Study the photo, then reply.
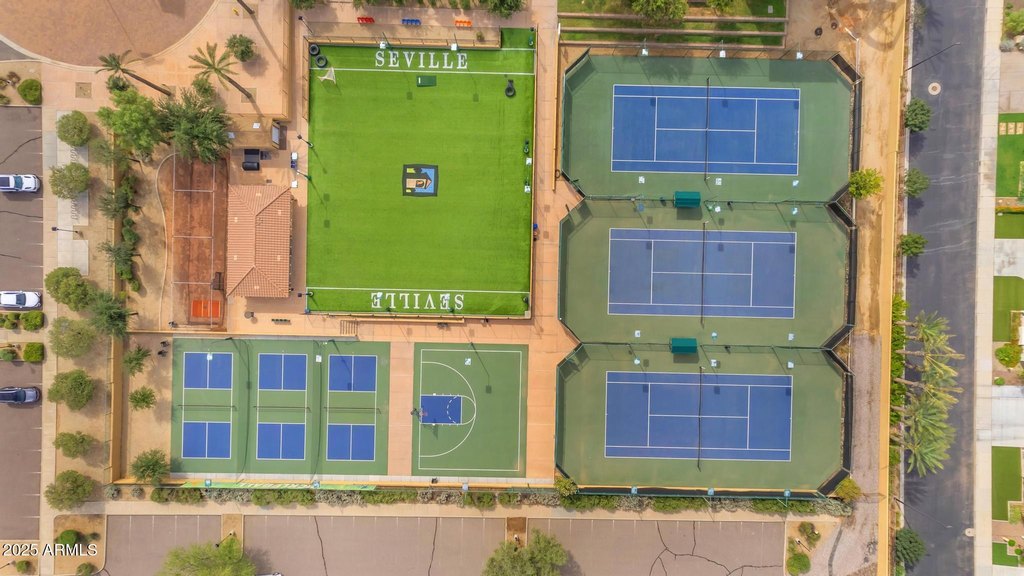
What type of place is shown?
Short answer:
sports ground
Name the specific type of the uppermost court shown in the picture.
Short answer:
tennis court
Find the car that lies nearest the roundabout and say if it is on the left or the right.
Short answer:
left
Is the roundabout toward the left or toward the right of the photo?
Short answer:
left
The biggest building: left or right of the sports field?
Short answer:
left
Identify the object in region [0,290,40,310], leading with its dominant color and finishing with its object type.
white car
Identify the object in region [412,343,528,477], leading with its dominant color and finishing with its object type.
green basketball court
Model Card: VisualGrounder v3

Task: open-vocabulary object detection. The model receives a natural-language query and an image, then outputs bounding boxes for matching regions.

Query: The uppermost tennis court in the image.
[564,55,851,204]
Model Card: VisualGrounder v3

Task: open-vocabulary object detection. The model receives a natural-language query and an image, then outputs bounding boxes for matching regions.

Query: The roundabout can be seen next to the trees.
[0,0,225,74]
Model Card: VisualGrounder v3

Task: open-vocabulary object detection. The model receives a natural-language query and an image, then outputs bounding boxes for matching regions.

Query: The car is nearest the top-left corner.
[0,173,40,194]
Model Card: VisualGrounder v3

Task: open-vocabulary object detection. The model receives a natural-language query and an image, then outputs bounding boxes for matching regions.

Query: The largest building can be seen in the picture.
[226,184,294,298]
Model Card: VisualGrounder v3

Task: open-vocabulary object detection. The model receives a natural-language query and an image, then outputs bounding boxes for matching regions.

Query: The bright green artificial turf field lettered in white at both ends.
[306,27,536,316]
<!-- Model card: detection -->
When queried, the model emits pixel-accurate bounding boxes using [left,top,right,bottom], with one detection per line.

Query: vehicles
[0,388,39,407]
[0,290,40,310]
[0,173,40,194]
